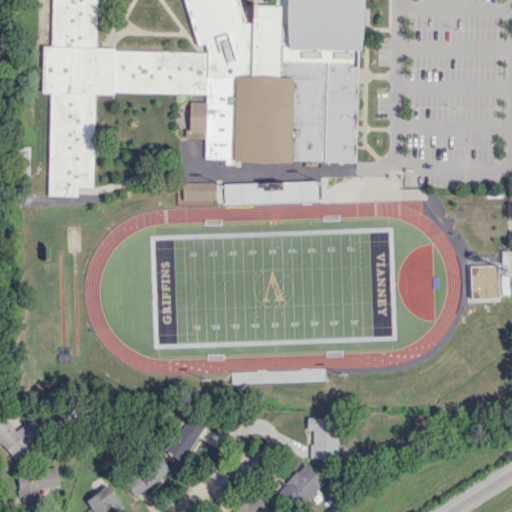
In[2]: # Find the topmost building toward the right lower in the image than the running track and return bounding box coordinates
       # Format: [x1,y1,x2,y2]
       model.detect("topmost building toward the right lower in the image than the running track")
[310,418,339,460]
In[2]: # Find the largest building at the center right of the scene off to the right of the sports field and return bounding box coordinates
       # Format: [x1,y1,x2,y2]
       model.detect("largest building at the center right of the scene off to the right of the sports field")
[472,265,501,299]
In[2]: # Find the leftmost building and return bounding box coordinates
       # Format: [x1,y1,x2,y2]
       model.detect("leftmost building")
[0,418,28,461]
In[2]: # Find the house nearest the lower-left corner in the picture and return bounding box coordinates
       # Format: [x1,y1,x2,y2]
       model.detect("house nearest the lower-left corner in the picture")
[18,467,61,500]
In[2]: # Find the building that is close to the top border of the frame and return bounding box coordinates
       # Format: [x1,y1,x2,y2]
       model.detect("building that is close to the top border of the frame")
[42,0,366,198]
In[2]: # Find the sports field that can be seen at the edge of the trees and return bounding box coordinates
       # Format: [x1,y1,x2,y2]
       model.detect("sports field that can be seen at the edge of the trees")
[102,218,446,360]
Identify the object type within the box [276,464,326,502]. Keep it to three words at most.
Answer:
house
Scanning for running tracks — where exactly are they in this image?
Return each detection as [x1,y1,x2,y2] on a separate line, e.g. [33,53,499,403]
[86,201,462,375]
